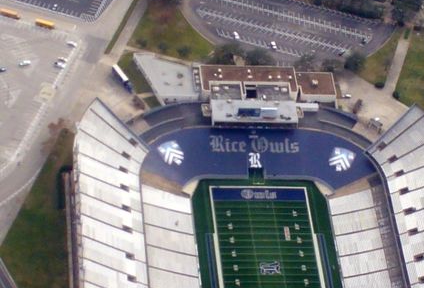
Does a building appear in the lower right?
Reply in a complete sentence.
No, no building can be made out in the lower right.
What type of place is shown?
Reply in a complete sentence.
What you see here is a sports ground.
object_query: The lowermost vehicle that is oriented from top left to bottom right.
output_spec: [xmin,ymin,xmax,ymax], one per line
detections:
[112,61,131,86]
